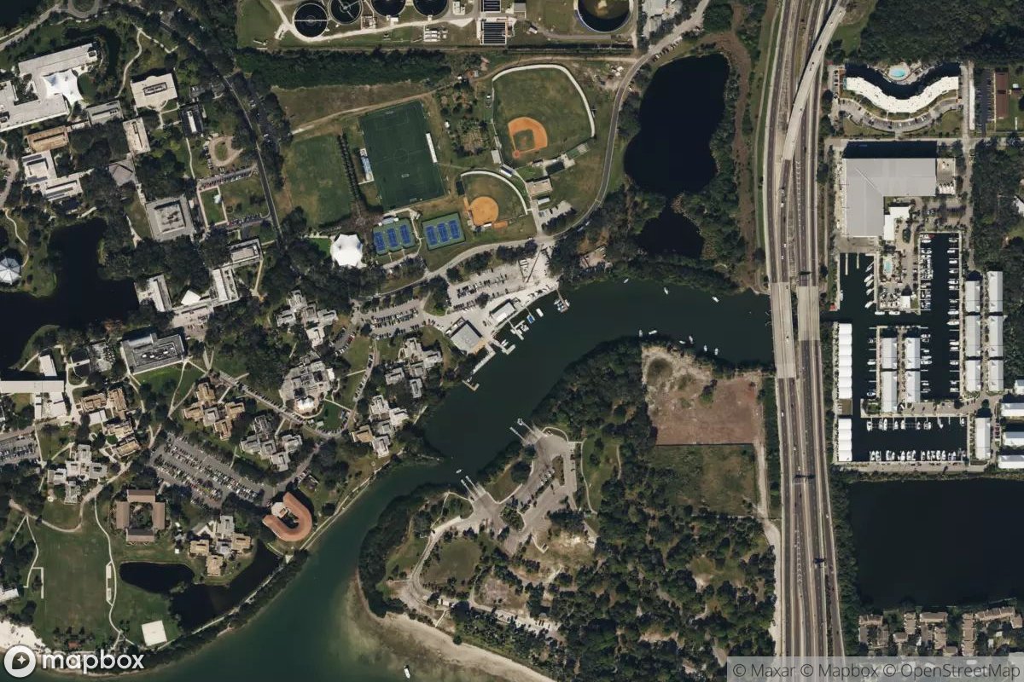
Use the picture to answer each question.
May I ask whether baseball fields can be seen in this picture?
Yes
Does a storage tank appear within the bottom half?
No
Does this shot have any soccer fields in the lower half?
No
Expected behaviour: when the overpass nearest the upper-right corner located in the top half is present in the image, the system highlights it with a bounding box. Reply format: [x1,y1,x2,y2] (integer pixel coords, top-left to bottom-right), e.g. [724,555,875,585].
[783,0,850,162]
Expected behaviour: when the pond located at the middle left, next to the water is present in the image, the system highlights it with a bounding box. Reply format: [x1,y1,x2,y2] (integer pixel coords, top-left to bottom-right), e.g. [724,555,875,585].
[0,218,139,370]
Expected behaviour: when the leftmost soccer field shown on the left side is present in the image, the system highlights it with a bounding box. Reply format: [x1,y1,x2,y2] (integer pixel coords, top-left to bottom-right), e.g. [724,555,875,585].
[358,100,446,212]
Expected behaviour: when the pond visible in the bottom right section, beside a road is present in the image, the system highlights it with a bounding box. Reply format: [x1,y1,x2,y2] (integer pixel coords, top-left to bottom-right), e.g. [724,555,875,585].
[848,478,1024,608]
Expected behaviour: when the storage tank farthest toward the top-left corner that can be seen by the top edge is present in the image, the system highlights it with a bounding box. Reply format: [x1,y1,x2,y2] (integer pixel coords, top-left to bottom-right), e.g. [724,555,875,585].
[293,3,328,37]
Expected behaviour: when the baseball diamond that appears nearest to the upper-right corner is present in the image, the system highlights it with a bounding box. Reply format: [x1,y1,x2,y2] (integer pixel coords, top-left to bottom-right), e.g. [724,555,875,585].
[492,64,595,163]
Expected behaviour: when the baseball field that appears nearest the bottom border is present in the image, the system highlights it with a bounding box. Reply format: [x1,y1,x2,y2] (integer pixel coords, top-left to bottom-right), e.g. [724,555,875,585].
[461,169,527,225]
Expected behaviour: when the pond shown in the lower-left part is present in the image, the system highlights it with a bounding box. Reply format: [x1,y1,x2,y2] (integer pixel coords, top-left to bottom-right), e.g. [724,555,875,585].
[120,539,281,633]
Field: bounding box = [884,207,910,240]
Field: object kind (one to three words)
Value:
building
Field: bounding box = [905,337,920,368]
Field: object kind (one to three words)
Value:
house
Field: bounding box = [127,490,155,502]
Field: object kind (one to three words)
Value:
building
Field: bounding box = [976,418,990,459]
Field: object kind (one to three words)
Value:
house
